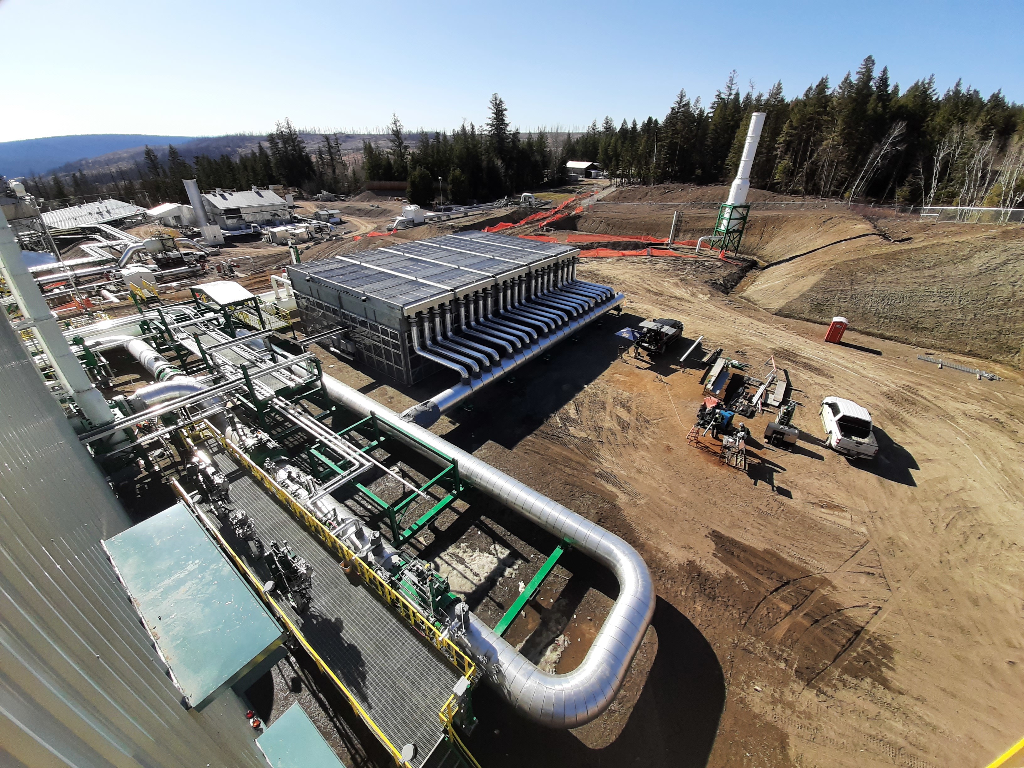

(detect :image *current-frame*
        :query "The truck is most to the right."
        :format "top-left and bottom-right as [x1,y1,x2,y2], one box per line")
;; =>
[819,393,882,463]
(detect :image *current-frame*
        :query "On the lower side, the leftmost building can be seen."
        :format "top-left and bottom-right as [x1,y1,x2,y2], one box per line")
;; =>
[0,337,343,768]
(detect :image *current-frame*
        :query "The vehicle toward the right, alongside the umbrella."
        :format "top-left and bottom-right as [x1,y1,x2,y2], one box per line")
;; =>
[636,317,687,352]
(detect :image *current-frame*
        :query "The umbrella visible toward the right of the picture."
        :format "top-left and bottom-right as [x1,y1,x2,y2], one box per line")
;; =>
[613,327,645,358]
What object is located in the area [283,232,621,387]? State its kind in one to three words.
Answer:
building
